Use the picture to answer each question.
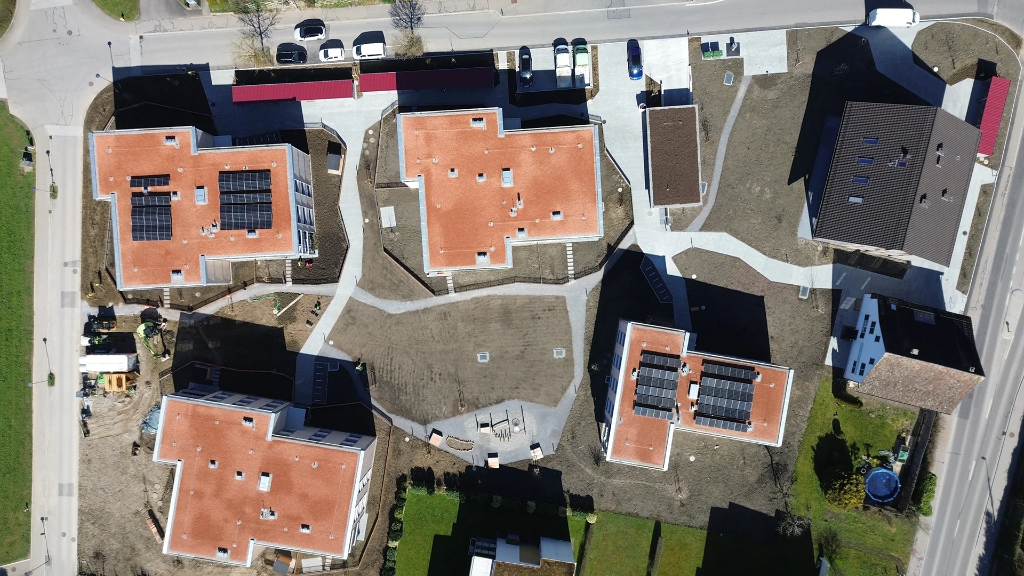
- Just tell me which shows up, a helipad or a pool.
pool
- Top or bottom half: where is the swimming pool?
bottom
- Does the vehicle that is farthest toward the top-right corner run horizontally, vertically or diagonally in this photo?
horizontally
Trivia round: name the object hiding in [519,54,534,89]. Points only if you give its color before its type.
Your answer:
black car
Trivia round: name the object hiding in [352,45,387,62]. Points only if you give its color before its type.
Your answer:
white vehicle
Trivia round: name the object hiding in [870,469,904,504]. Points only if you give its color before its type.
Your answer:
blue swimming pool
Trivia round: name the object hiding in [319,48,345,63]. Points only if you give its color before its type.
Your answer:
white car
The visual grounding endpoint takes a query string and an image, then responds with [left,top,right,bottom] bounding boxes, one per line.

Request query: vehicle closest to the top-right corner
[865,11,912,31]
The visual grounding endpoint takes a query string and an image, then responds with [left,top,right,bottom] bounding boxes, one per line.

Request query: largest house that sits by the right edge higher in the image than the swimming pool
[794,100,983,268]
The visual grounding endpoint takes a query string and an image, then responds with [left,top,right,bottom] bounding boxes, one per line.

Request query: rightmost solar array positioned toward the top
[218,171,272,230]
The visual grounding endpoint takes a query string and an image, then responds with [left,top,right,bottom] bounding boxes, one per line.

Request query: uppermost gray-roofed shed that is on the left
[326,154,344,175]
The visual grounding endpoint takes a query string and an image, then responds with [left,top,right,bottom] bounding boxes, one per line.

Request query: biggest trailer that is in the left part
[83,353,136,372]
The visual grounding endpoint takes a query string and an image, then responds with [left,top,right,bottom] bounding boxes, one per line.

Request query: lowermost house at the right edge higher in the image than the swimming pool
[844,295,986,415]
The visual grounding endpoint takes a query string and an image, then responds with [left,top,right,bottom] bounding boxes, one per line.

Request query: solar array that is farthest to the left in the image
[130,176,172,241]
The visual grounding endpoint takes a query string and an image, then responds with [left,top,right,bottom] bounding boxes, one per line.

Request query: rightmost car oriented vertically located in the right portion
[628,48,644,81]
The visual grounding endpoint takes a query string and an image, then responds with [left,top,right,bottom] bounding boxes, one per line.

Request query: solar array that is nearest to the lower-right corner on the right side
[694,363,757,432]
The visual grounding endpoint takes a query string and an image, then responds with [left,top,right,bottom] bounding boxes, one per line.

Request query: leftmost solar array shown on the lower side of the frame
[633,354,681,421]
